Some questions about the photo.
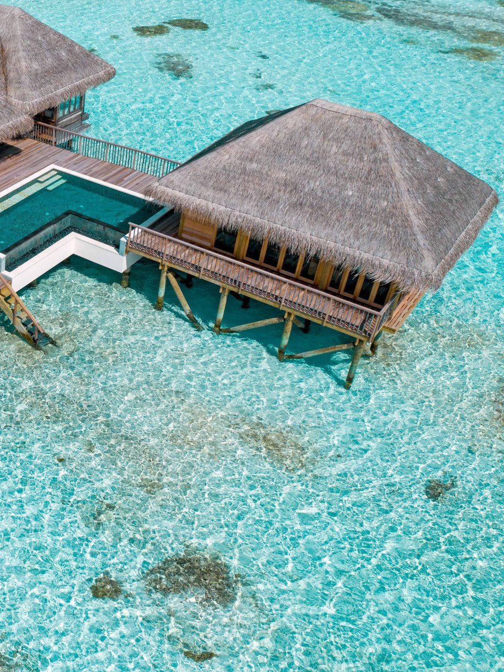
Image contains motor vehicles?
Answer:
No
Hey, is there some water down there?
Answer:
Yes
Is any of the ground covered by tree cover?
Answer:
No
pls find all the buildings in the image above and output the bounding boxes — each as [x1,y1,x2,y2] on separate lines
[132,98,504,384]
[0,2,114,149]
